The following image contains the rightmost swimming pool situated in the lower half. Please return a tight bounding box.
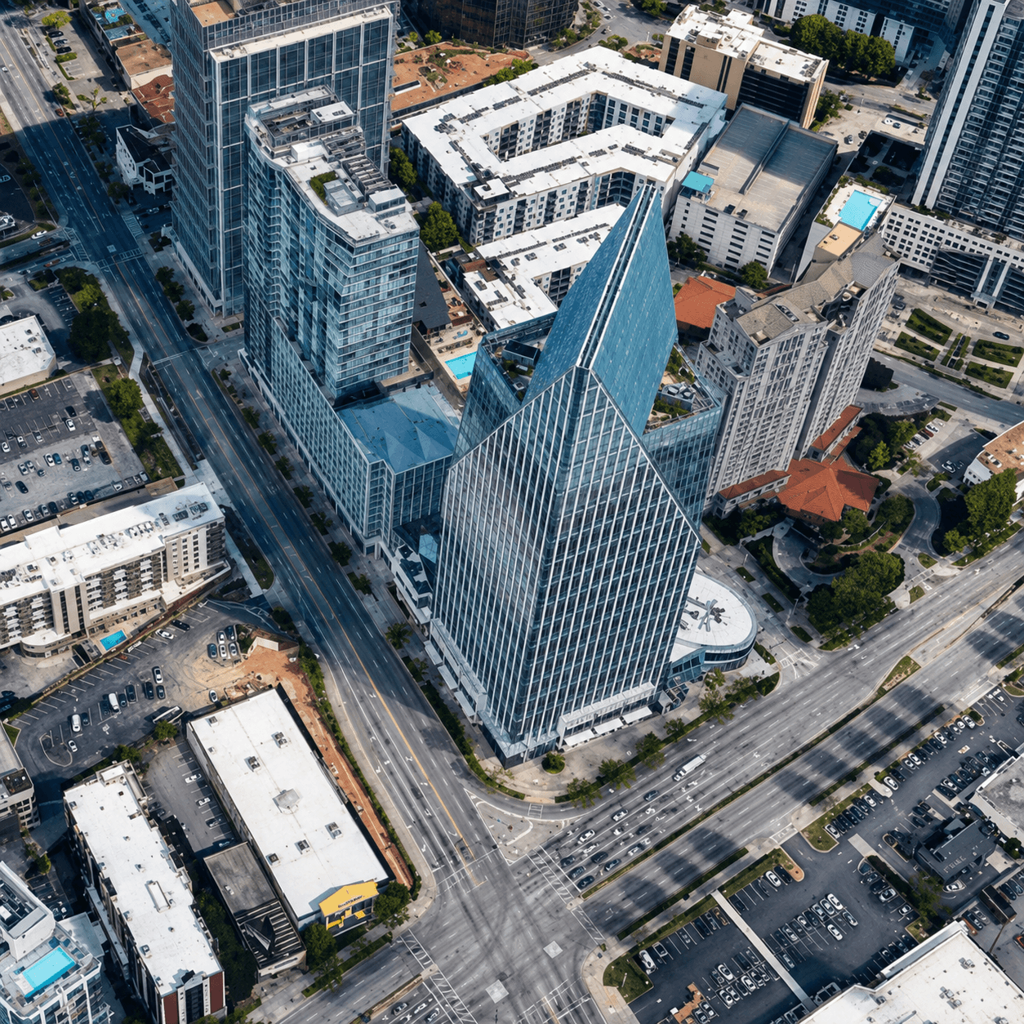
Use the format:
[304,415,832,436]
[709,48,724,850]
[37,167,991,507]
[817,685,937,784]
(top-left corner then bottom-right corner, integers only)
[99,630,127,650]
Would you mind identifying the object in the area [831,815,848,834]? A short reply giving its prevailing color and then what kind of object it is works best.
black car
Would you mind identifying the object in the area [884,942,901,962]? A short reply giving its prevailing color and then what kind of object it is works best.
black car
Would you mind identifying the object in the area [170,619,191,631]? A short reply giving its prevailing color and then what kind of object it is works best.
black vehicle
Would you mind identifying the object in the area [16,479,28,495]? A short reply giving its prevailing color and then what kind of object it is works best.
black vehicle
